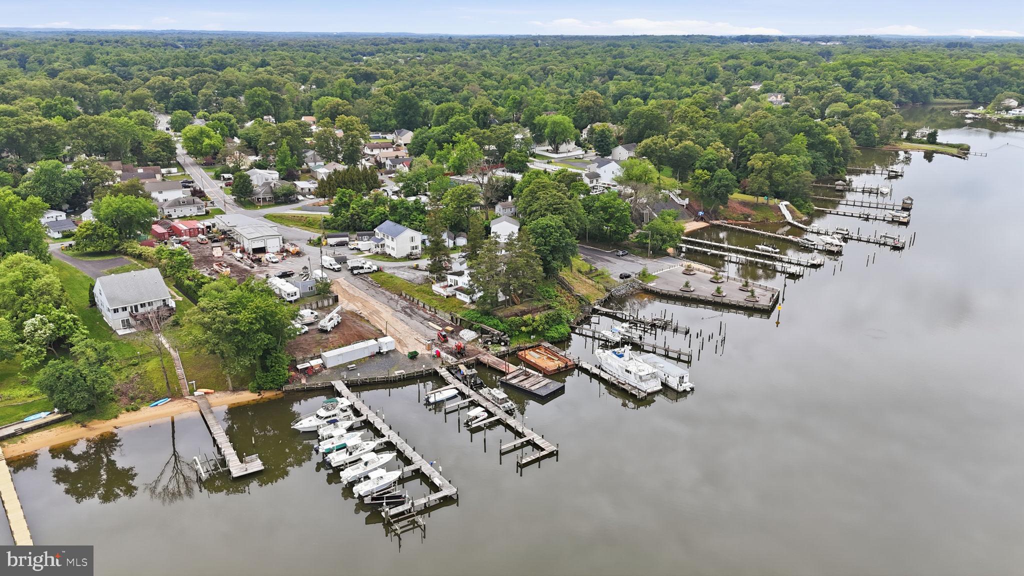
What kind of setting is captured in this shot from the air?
port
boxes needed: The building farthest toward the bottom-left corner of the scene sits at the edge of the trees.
[100,268,178,333]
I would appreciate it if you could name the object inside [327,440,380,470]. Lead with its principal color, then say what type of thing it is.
white boat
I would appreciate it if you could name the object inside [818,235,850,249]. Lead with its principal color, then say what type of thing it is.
white boat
